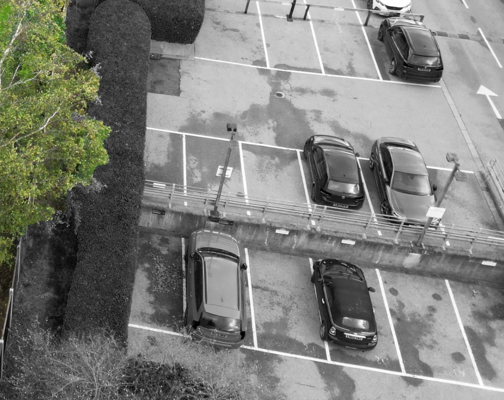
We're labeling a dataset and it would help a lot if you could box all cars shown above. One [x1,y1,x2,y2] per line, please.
[304,129,374,209]
[367,130,447,232]
[189,230,256,347]
[381,15,450,77]
[312,251,387,347]
[369,0,413,11]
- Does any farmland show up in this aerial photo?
No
